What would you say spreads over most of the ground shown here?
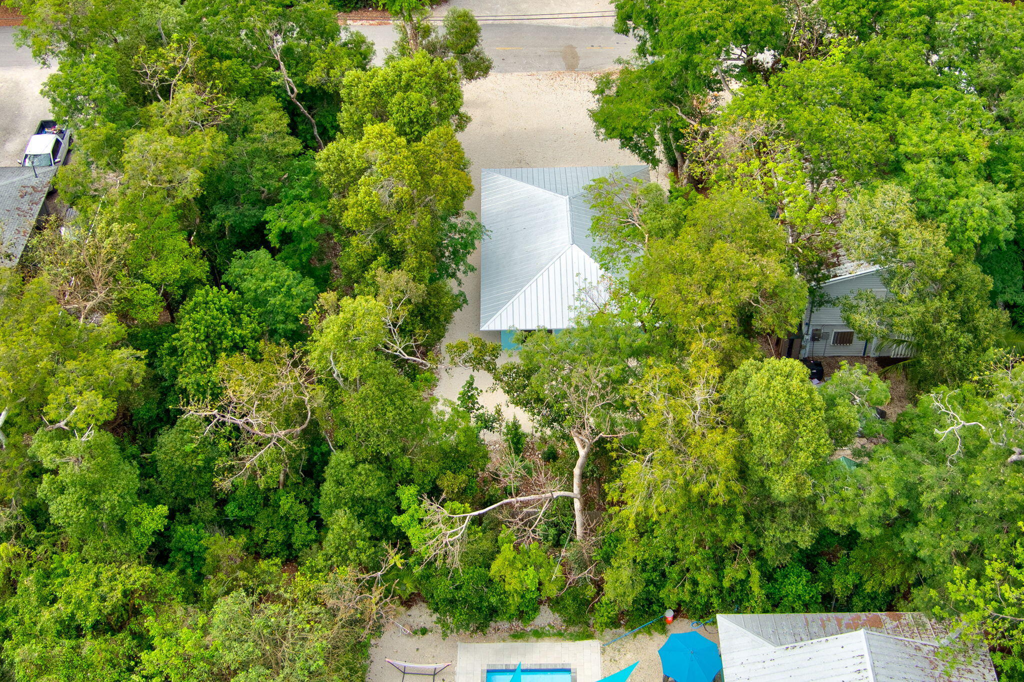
trees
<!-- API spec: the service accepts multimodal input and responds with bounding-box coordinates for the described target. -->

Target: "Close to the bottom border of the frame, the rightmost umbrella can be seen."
[656,632,721,682]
